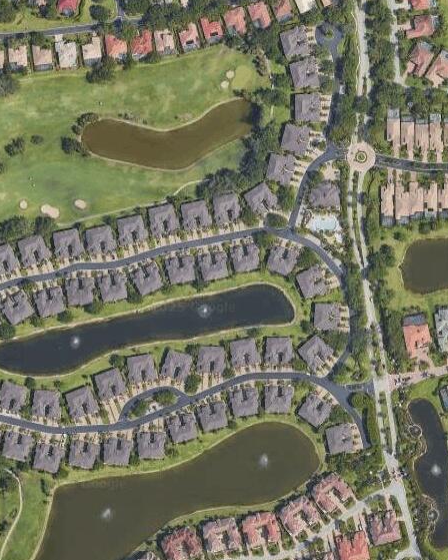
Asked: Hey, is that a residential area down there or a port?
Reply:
residential area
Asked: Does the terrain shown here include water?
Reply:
Yes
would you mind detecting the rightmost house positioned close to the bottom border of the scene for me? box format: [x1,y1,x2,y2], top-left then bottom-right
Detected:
[367,512,401,545]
